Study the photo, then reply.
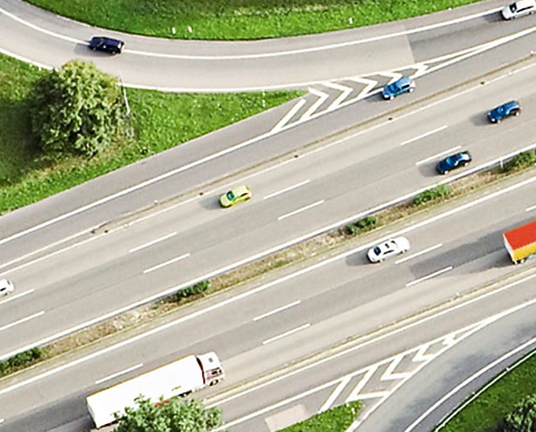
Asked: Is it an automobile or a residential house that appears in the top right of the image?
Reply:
automobile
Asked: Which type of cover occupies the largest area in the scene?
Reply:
paved ground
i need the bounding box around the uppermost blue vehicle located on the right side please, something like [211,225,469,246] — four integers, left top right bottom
[382,75,415,99]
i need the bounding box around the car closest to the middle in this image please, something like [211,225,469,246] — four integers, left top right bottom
[218,184,253,208]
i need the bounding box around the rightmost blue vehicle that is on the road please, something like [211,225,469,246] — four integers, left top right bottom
[486,99,521,124]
